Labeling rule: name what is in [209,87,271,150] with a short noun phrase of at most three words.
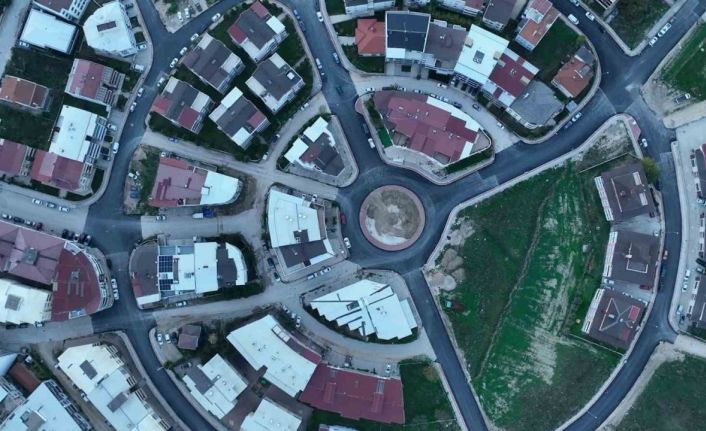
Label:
house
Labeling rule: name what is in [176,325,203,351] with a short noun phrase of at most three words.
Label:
shed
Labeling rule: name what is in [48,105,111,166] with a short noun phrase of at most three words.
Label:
building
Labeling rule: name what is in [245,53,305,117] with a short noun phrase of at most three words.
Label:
house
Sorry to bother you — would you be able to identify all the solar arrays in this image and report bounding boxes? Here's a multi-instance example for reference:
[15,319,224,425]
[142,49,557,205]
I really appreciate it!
[163,255,176,272]
[163,279,176,290]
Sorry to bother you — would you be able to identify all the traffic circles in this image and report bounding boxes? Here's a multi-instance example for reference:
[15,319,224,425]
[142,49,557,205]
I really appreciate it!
[360,186,425,251]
